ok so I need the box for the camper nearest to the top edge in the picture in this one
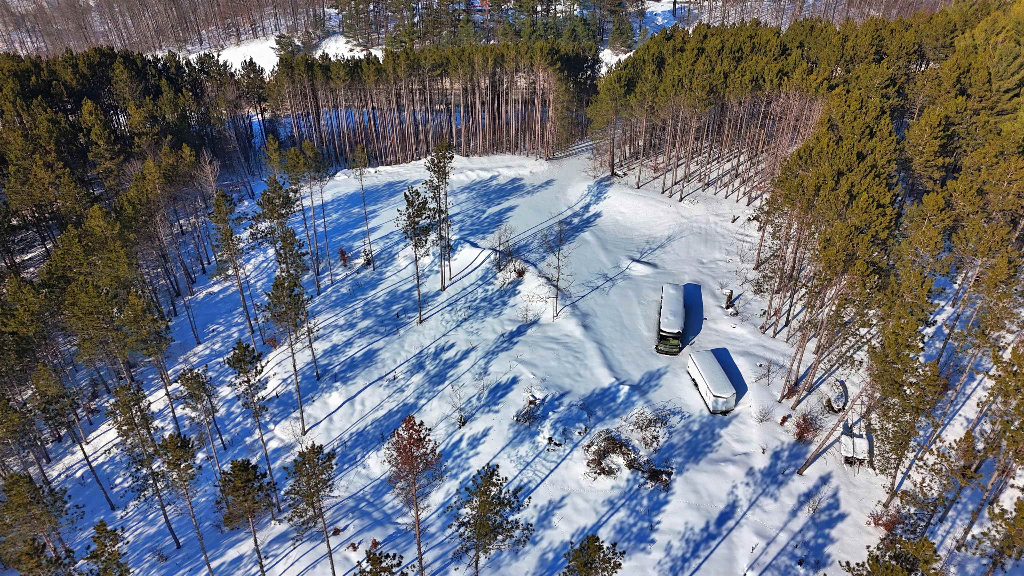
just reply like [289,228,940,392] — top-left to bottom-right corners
[655,285,686,355]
